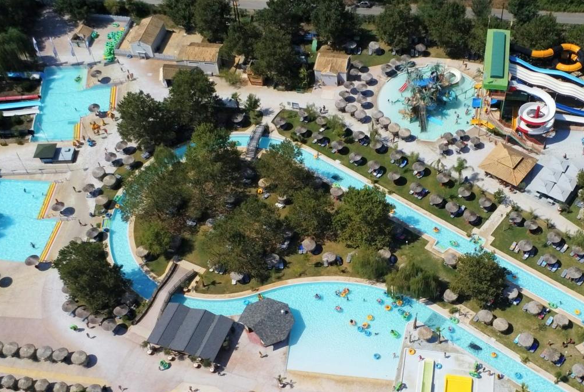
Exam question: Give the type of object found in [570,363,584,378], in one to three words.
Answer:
umbrella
